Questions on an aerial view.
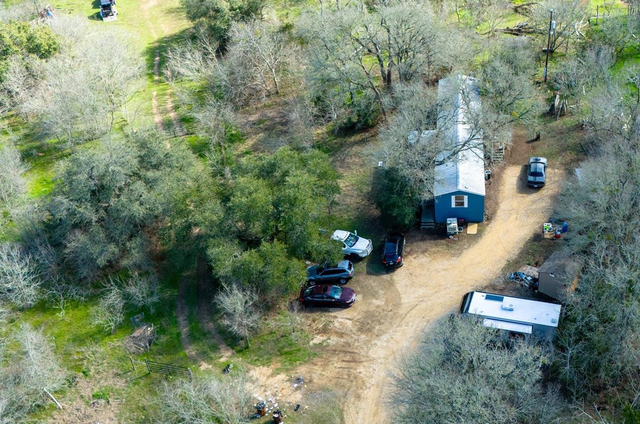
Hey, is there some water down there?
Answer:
No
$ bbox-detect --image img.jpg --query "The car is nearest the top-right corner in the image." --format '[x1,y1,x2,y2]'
[526,158,548,190]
